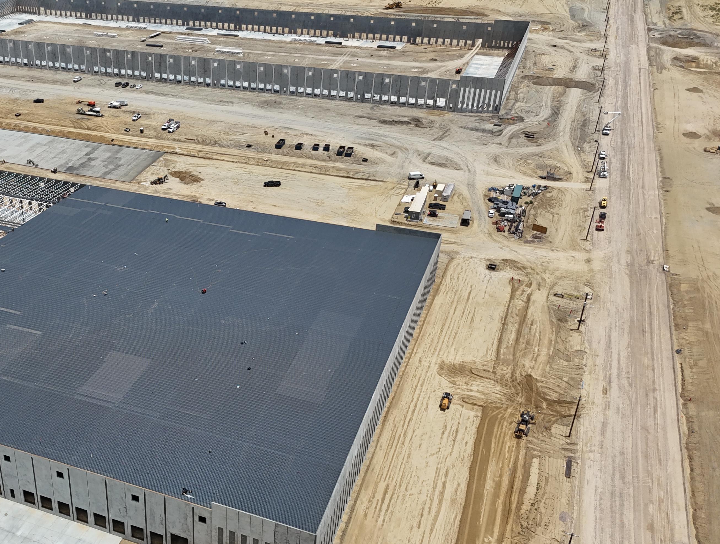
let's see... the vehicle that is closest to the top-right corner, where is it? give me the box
[603,111,621,132]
